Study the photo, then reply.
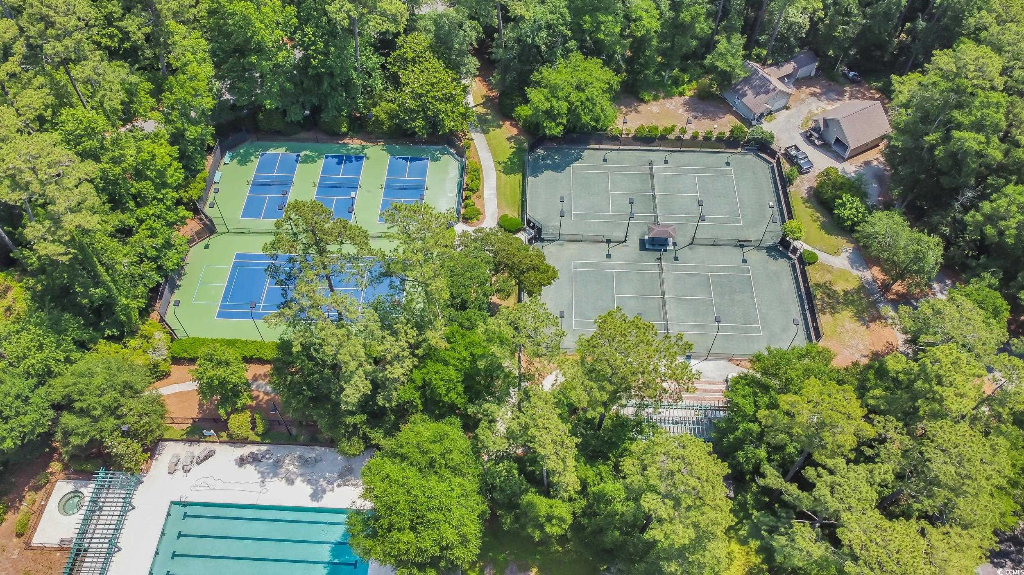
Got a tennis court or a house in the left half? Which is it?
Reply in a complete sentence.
You can see a tennis court in the left half.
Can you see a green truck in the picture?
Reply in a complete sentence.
No, no green truck can be seen from above.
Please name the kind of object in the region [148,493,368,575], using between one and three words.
swimming pool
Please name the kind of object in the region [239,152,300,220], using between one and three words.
sports court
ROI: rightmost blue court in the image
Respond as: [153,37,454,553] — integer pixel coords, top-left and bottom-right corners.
[377,155,430,223]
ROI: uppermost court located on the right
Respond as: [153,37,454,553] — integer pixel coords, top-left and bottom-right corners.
[526,147,783,246]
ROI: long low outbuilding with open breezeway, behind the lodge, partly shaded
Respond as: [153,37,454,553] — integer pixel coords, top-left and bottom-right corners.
[760,45,824,87]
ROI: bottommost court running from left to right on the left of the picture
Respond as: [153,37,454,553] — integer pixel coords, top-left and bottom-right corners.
[187,253,405,327]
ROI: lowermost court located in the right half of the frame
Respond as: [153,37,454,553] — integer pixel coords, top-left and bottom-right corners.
[522,240,810,358]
